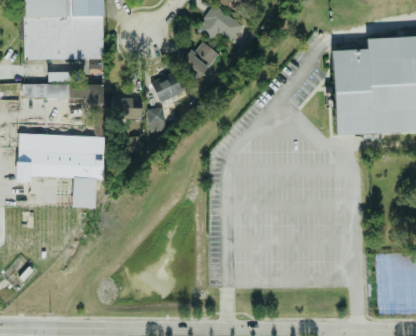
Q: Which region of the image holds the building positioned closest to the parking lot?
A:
top right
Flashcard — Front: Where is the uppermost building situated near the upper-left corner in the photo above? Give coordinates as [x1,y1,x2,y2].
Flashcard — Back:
[24,0,104,60]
